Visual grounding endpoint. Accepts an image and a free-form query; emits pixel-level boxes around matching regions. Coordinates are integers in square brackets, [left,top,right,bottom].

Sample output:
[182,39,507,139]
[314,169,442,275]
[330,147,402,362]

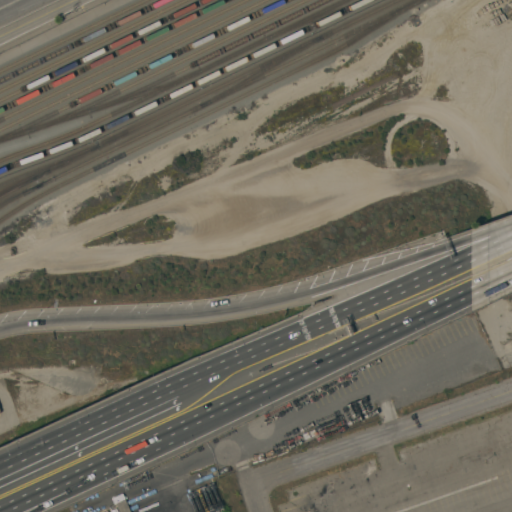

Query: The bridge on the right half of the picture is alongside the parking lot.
[472,214,512,312]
